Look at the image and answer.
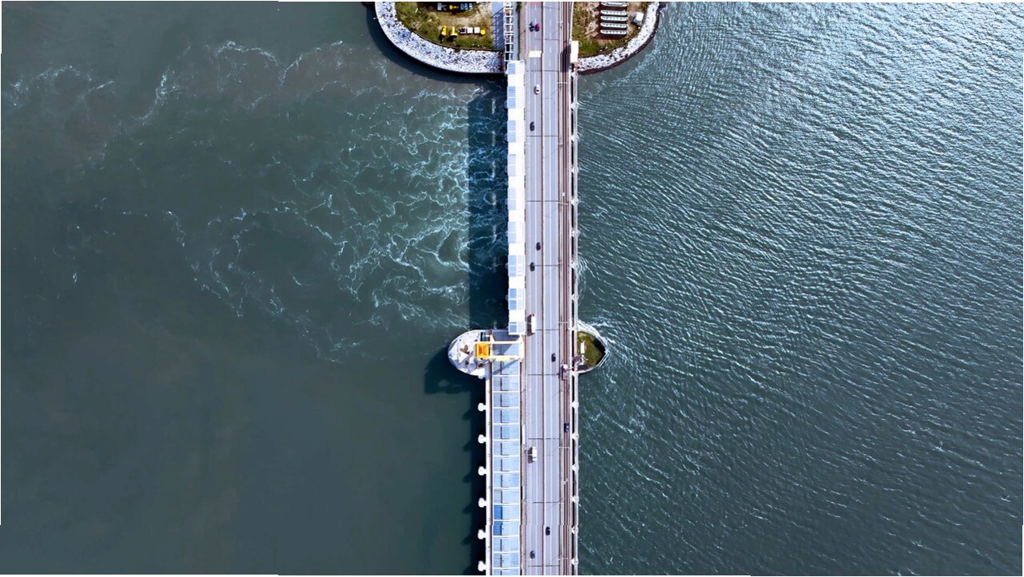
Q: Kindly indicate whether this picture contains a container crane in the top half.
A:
No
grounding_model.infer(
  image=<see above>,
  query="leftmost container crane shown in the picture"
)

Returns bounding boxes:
[474,329,524,360]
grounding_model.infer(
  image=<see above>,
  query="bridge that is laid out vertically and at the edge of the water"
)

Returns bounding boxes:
[478,0,577,577]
